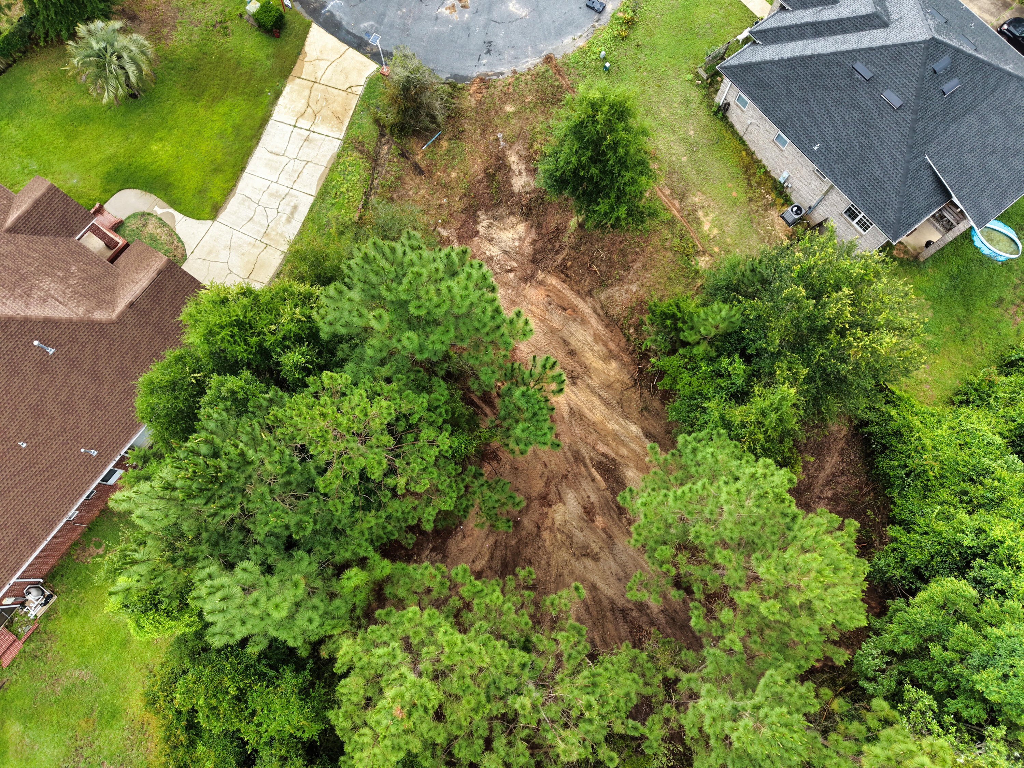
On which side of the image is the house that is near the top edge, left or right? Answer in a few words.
right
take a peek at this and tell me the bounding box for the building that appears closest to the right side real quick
[717,0,1024,270]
